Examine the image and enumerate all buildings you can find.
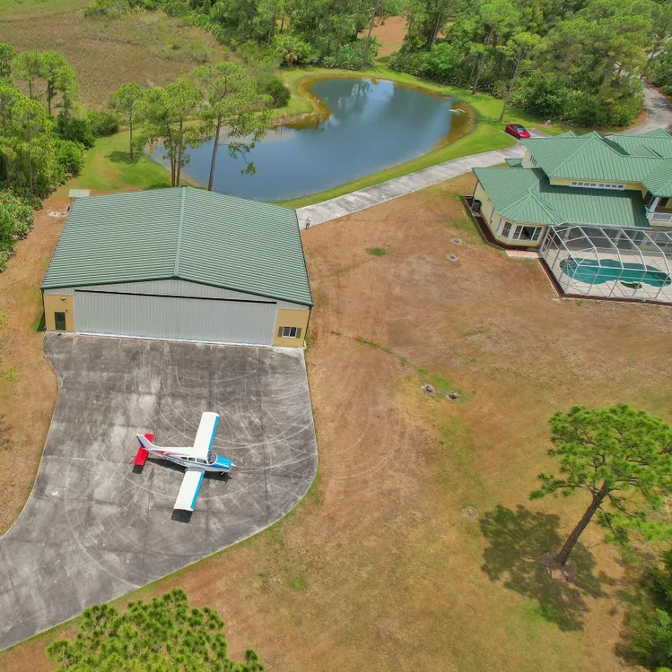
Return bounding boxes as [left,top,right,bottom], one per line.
[468,116,672,254]
[41,185,314,349]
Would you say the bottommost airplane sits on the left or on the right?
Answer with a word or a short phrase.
left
